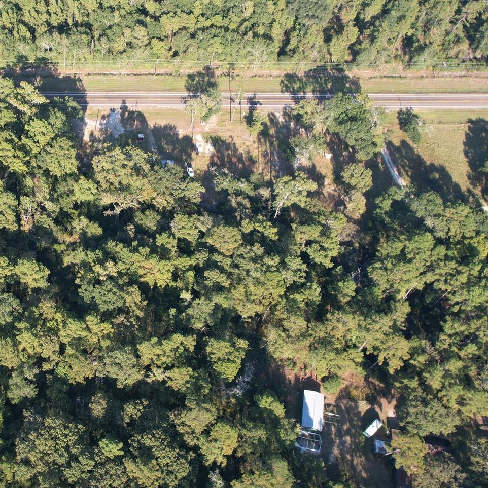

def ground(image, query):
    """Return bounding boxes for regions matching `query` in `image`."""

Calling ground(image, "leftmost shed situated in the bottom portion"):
[298,391,323,434]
